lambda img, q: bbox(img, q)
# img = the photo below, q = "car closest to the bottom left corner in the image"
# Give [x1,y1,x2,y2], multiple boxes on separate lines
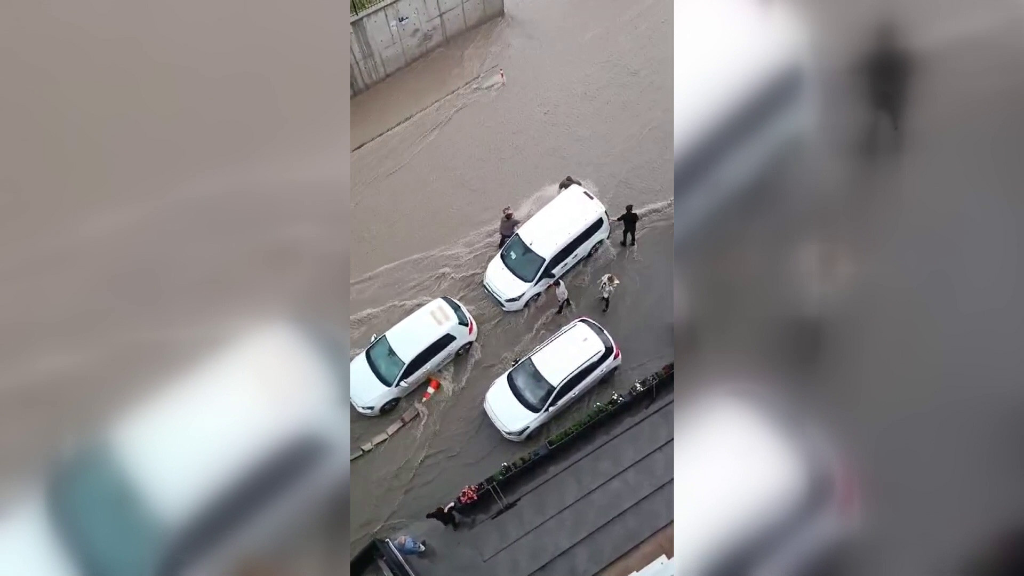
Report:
[342,297,476,414]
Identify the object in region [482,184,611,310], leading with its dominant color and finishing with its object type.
white vehicle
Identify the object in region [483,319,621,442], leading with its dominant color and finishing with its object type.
white car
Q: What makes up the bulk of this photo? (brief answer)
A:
water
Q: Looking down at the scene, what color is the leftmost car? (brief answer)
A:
white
